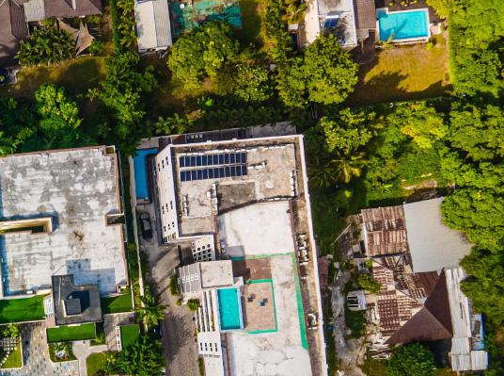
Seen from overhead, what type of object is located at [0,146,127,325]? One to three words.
building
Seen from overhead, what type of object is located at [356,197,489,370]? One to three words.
house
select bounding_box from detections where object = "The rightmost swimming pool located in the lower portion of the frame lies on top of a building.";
[219,289,240,329]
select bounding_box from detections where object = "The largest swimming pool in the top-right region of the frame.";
[379,8,431,41]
